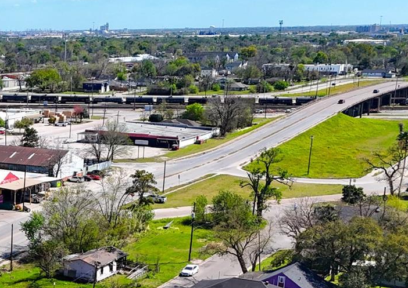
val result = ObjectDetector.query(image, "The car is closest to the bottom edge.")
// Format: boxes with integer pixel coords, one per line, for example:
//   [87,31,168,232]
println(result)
[178,262,201,276]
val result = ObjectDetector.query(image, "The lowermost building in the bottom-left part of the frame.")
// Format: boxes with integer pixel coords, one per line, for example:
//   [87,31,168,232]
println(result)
[64,249,120,283]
